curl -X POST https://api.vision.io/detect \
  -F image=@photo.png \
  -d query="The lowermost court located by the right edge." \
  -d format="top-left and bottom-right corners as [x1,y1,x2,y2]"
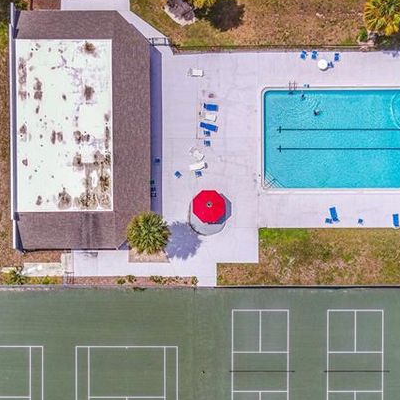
[324,309,391,400]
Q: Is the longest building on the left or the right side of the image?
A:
left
